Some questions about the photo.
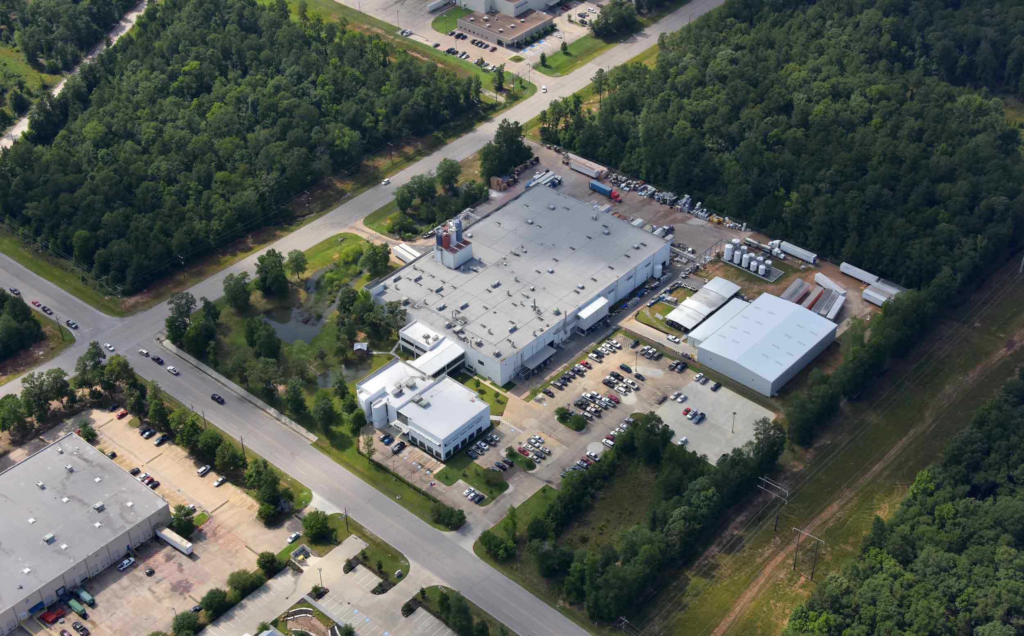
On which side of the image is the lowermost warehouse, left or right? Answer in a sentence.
The lowermost warehouse sits on the left side.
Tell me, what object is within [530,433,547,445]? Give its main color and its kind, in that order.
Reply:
white vehicle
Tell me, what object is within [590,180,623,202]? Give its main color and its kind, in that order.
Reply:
blue truck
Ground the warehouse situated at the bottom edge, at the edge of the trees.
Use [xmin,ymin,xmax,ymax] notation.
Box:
[0,432,171,636]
